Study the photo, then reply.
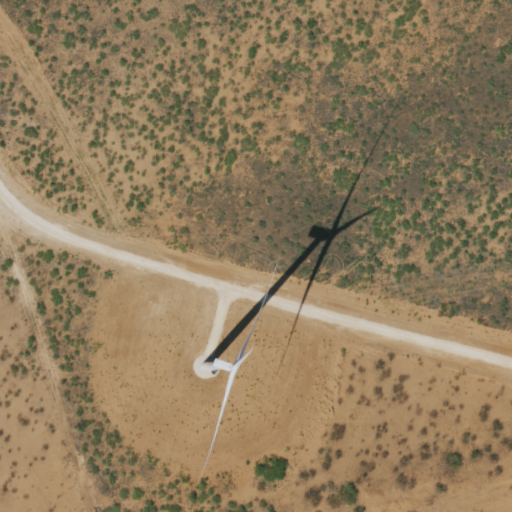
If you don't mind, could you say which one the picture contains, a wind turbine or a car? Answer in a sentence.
Visible in the photo is a wind turbine.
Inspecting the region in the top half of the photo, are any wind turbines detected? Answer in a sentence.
No, there is no wind turbine in the top half of the photo.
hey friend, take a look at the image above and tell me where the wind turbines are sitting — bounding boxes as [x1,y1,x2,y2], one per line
[200,266,278,478]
